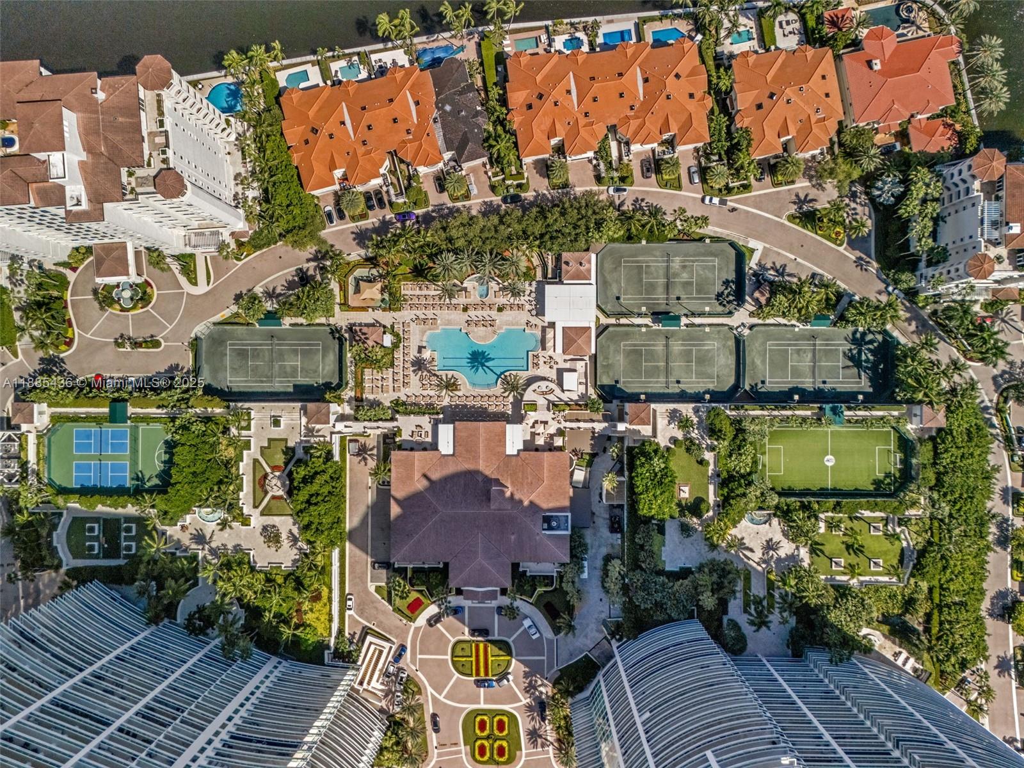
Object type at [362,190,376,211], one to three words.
car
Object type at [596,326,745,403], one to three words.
tennis court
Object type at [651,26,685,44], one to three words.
swimming pool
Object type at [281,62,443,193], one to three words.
house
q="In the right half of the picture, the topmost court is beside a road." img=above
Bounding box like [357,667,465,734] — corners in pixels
[597,239,750,317]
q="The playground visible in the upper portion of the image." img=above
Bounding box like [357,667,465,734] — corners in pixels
[348,268,395,308]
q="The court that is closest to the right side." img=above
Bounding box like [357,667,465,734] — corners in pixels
[745,326,903,403]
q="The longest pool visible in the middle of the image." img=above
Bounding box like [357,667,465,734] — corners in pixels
[424,327,542,391]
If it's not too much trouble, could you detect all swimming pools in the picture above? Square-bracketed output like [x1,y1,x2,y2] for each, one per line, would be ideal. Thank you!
[651,26,685,44]
[562,36,584,52]
[338,61,362,79]
[602,28,633,46]
[730,29,753,45]
[208,81,243,114]
[285,68,310,86]
[513,36,540,50]
[416,43,467,69]
[424,327,542,391]
[478,281,489,300]
[865,3,920,31]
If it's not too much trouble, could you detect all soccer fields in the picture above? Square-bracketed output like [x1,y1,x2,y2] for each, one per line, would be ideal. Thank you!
[756,425,918,499]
